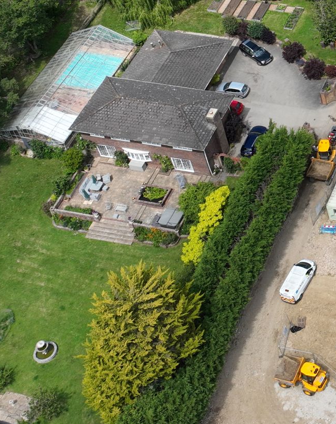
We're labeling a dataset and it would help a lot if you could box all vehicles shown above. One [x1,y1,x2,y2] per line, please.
[265,261,307,306]
[241,123,271,157]
[240,38,272,66]
[218,83,251,100]
[269,355,321,394]
[308,133,336,173]
[229,100,251,120]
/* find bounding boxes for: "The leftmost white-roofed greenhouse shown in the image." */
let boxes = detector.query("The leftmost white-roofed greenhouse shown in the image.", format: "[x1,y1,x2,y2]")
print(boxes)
[0,28,139,155]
